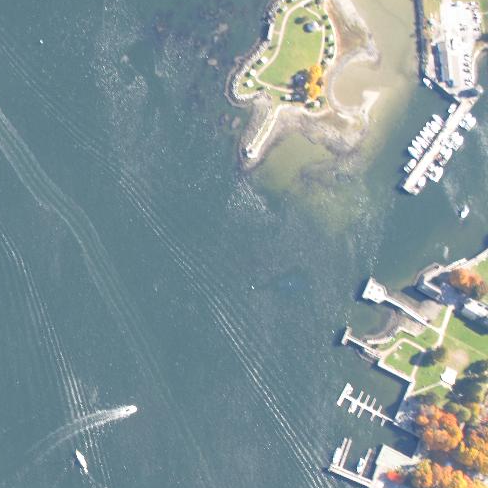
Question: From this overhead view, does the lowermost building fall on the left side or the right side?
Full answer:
You can find the lowermost building on the right side of the picture.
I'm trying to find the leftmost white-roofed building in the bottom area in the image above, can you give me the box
[436,364,460,385]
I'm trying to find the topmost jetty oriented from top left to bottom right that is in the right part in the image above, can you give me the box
[384,293,442,332]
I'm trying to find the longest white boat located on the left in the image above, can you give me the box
[75,450,89,474]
